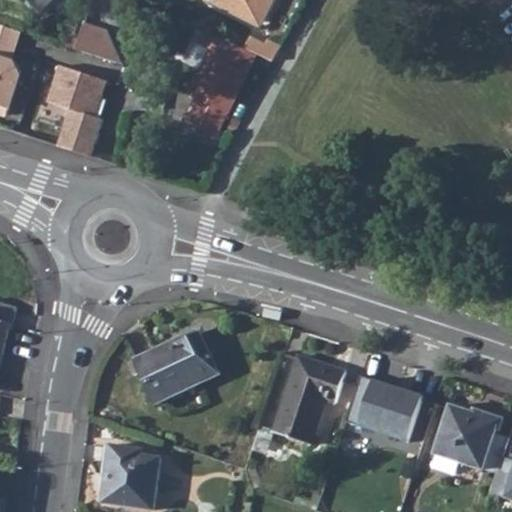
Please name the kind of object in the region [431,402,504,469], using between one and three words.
house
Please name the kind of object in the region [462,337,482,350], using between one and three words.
vehicle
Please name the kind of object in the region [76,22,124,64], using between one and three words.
house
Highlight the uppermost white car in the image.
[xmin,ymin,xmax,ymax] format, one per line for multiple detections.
[212,238,236,252]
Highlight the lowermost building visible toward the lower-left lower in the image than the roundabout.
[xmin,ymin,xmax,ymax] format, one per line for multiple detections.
[98,444,162,509]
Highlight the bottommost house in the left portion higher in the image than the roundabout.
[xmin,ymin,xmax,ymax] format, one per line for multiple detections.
[56,108,102,155]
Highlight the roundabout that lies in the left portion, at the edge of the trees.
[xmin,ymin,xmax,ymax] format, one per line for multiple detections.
[55,185,167,289]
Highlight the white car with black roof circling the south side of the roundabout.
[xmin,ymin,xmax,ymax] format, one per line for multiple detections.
[110,285,127,306]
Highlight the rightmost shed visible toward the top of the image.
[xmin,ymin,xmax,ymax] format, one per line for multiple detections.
[246,36,281,62]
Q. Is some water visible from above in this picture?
No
